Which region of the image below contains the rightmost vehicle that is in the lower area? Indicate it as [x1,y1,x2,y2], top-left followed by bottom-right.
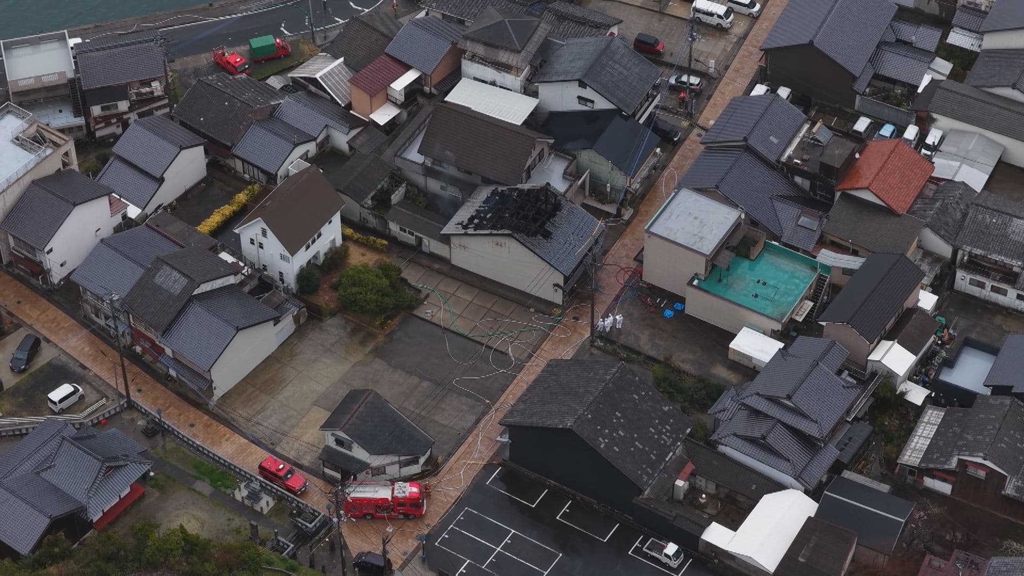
[644,535,685,566]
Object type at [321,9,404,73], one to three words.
house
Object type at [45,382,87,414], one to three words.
car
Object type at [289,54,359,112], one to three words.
shed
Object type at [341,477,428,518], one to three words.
truck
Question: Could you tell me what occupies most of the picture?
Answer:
buildings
